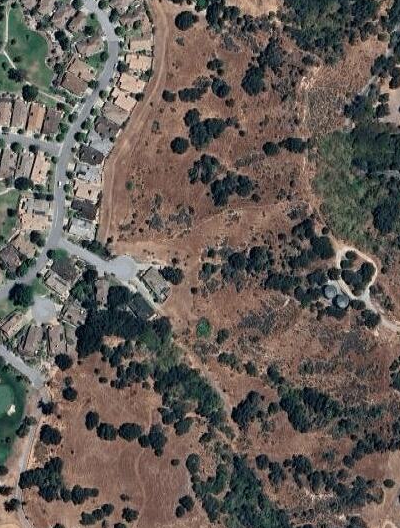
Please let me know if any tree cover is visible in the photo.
Yes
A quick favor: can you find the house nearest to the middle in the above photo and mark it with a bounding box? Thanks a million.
[143,270,170,296]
